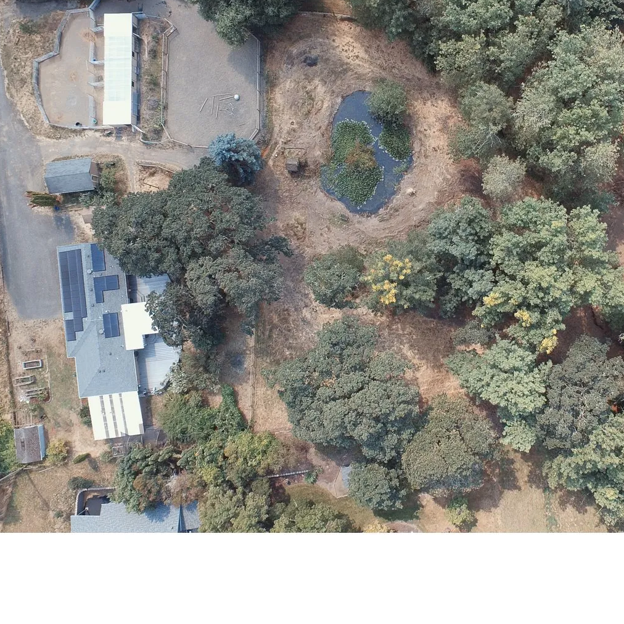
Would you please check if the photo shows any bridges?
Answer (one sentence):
No, no bridge can be seen from above.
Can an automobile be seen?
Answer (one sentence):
No, no automobile is visible in the view.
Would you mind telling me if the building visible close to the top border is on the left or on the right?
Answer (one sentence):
The building visible close to the top border appears in the left half of the scene.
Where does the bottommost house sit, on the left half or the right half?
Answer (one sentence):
The bottommost house appears in the left half of the scene.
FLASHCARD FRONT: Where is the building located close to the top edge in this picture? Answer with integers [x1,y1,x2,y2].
[103,13,139,126]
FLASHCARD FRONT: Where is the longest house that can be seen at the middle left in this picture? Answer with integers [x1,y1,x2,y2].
[56,242,141,399]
